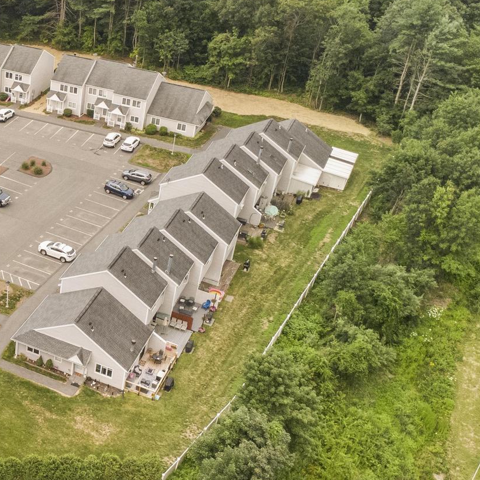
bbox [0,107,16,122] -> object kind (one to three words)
car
